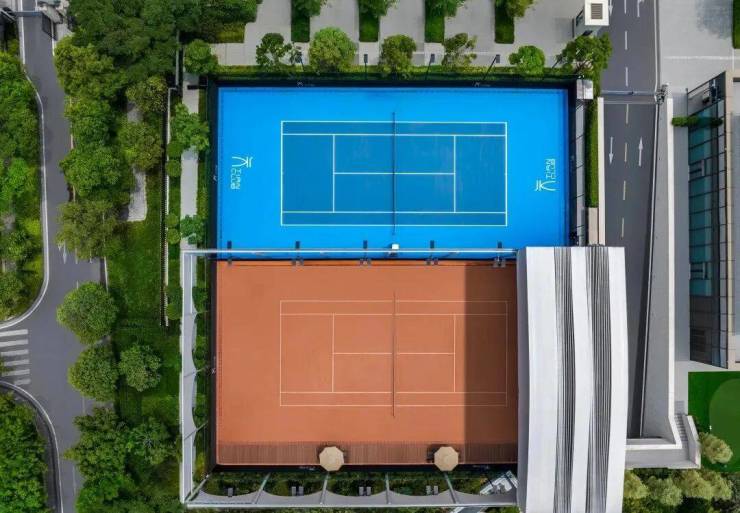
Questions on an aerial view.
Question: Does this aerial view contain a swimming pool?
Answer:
No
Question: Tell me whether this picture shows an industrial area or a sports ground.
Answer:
sports ground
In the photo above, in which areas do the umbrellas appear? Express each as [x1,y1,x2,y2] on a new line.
[433,444,459,470]
[318,444,345,471]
